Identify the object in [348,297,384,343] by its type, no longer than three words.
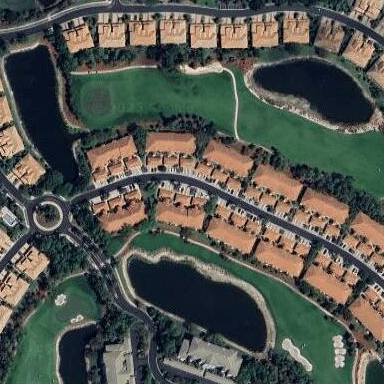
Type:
house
